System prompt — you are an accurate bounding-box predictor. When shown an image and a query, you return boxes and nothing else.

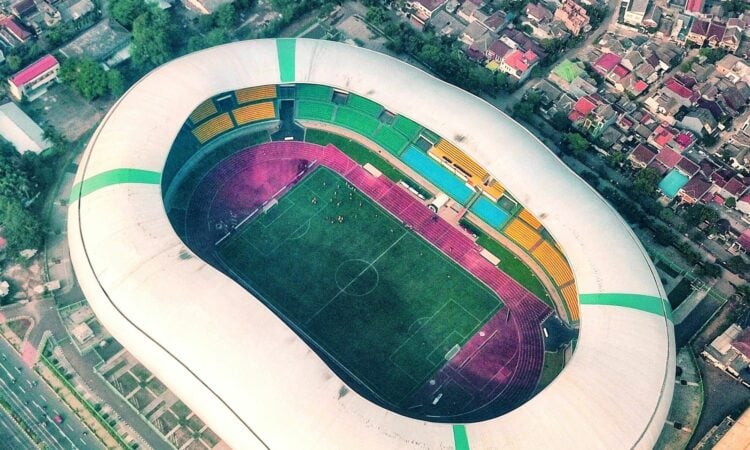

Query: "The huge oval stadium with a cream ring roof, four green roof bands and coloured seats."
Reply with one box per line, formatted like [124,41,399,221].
[67,37,677,450]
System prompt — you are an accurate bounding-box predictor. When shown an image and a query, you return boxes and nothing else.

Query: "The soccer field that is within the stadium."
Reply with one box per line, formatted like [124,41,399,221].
[213,166,502,407]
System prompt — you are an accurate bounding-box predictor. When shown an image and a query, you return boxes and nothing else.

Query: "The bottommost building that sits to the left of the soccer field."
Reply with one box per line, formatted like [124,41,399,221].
[64,320,93,347]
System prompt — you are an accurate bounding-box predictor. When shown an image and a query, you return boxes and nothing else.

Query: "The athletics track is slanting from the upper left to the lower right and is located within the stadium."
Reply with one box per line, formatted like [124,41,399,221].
[179,136,554,423]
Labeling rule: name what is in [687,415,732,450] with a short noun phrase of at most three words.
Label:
building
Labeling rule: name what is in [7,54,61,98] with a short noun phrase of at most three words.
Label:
building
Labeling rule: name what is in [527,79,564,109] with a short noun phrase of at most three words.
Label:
house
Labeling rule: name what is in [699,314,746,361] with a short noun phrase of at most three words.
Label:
house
